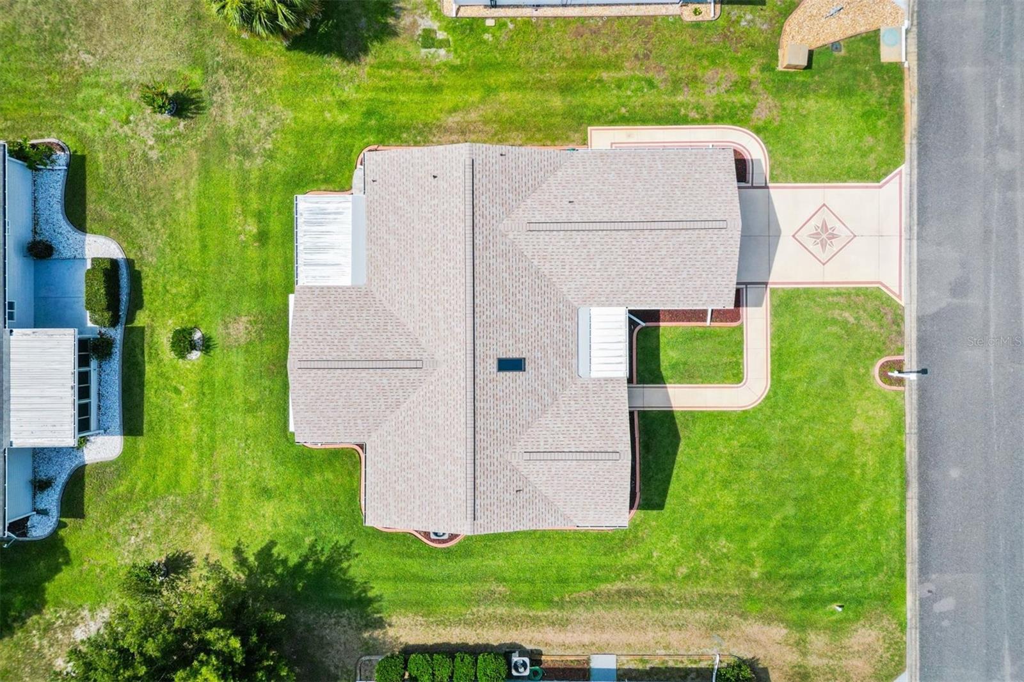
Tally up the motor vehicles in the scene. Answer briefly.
0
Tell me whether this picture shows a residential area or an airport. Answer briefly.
residential area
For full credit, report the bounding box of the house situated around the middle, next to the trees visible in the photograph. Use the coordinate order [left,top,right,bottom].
[287,142,741,535]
